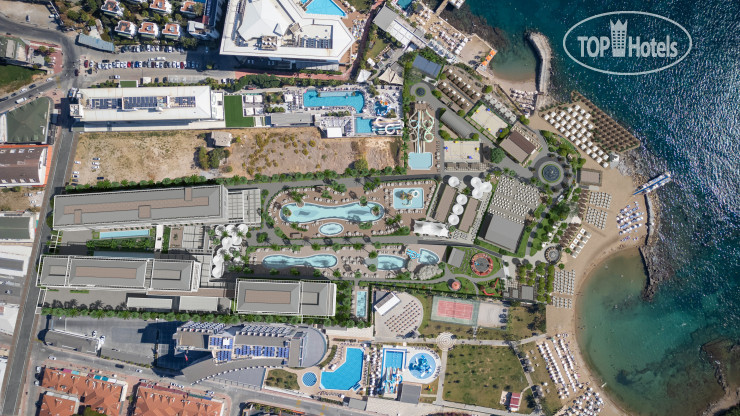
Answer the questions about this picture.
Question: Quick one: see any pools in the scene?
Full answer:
Yes, the picture does show a pool.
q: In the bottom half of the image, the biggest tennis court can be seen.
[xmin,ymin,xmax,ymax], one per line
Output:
[431,294,481,328]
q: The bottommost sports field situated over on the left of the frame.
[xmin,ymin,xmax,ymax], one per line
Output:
[224,95,254,128]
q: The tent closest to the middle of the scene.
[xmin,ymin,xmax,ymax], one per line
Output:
[414,220,449,235]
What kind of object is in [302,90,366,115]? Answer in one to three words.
swimming pool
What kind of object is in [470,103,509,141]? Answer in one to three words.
sports court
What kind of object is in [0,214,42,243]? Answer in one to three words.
building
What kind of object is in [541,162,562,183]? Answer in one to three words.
fountain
